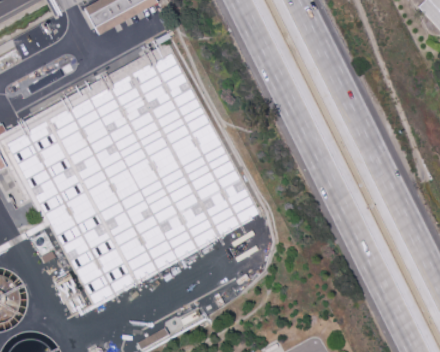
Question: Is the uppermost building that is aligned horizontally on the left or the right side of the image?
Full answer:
The uppermost building that is aligned horizontally is on the left side of the image.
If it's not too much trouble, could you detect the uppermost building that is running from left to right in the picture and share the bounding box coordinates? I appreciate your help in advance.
[85,0,160,35]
